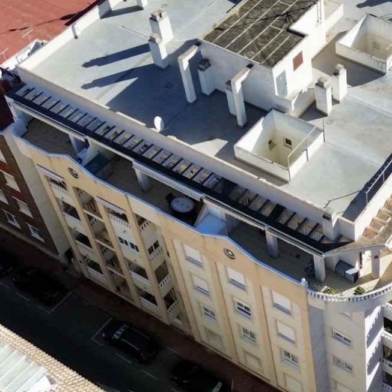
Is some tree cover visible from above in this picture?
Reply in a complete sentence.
No, there's no tree cover in this view.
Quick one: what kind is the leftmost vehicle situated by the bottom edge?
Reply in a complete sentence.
From above, the leftmost vehicle situated by the bottom edge can be identified as an automobile.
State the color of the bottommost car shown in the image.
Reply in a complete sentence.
The bottommost car looks black in the image.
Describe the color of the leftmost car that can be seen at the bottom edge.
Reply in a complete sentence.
From above, the leftmost car that can be seen at the bottom edge appears black.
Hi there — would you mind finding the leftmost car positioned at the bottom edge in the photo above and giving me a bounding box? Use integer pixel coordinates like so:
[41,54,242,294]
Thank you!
[99,318,169,373]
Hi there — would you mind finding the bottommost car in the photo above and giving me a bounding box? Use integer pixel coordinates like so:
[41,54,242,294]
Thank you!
[166,358,233,392]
